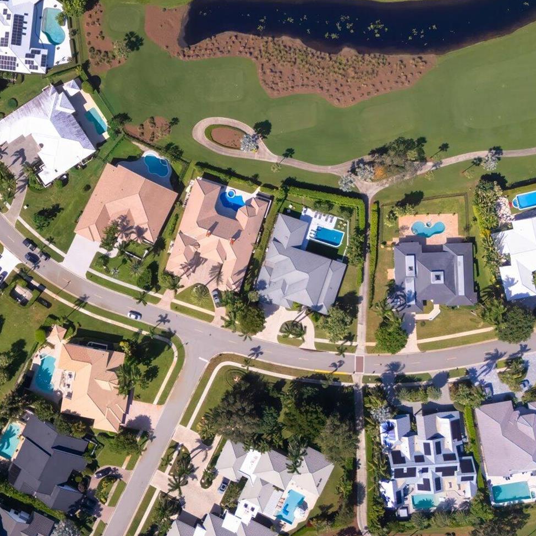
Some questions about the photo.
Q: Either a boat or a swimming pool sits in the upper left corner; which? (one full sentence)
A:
Looking in the upper left corner, you will find a swimming pool.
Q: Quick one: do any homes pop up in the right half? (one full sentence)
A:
Yes, you'll find a home in the right half.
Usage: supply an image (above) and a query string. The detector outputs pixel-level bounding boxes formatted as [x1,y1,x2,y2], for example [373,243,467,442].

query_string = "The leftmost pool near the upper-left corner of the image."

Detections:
[41,7,66,46]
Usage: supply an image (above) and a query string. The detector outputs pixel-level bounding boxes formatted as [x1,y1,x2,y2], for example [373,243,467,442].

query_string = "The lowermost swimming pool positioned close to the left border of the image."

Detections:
[0,423,22,459]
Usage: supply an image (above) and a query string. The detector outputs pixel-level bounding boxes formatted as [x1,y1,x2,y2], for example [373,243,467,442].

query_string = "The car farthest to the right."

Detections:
[517,379,533,391]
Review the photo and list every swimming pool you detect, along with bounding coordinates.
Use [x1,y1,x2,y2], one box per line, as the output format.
[219,189,243,212]
[0,423,22,459]
[143,153,171,178]
[513,190,536,210]
[315,226,346,248]
[34,354,57,395]
[274,489,306,526]
[411,220,447,239]
[41,7,66,46]
[85,106,109,135]
[412,495,438,511]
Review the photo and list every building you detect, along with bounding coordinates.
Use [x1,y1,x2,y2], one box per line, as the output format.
[0,79,95,185]
[392,242,475,310]
[0,416,88,515]
[473,401,536,488]
[0,0,47,75]
[378,412,478,511]
[46,324,67,346]
[254,214,347,315]
[0,503,55,536]
[165,440,335,536]
[55,342,128,434]
[166,179,269,291]
[78,163,178,243]
[492,217,536,300]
